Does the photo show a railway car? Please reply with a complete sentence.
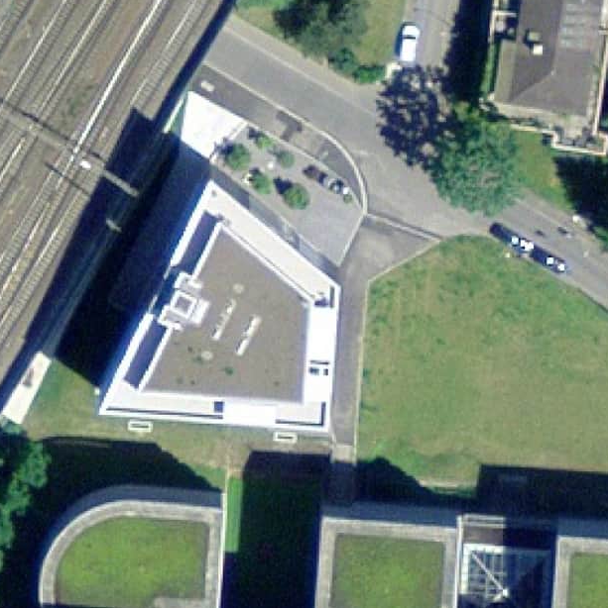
No, no railway car is visible in the scene.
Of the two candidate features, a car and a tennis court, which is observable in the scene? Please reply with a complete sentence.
Of the two, only a car appears.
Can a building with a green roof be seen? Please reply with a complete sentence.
Yes, there's a building with a green roof here.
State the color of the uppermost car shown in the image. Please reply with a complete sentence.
In this view, the uppermost car is white.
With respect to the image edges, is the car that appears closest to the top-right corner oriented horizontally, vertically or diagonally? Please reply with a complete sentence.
The car that appears closest to the top-right corner runs vertically in the image.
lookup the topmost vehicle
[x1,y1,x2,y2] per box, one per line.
[399,21,421,63]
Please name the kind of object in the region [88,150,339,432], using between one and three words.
building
